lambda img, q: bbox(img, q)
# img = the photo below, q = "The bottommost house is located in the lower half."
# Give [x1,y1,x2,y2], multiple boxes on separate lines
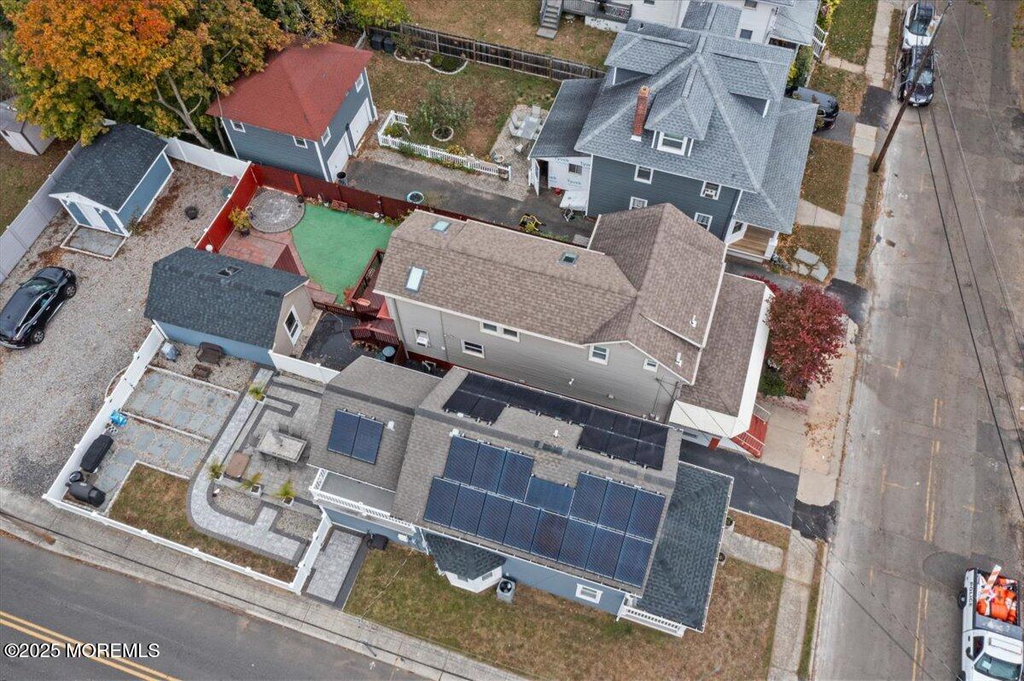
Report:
[299,355,736,641]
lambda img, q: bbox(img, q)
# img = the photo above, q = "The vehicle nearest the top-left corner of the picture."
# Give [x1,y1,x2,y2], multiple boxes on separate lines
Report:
[0,265,78,353]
